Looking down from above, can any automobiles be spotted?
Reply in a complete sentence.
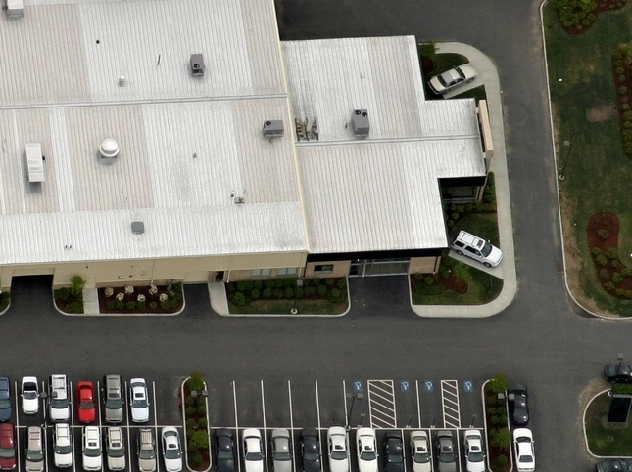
Yes, there is an automobile in the image.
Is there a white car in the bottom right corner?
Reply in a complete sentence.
Yes, a white car shows up in the bottom right corner.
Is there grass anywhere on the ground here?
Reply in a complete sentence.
Yes, there is grass in the image.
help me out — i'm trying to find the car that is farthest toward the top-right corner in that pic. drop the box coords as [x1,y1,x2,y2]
[426,65,480,96]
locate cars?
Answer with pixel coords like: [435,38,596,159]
[326,426,350,472]
[507,383,530,425]
[300,428,324,472]
[53,422,74,468]
[106,425,127,471]
[241,428,265,472]
[24,425,47,472]
[426,65,480,96]
[213,428,237,472]
[464,429,487,472]
[130,377,151,423]
[512,426,536,472]
[435,430,458,472]
[82,424,104,471]
[161,426,183,472]
[602,365,632,385]
[0,375,14,422]
[137,426,158,472]
[355,428,380,472]
[49,374,71,422]
[102,374,126,423]
[449,230,502,268]
[271,429,294,472]
[19,375,41,414]
[0,423,19,471]
[410,430,433,472]
[383,431,405,472]
[76,381,98,423]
